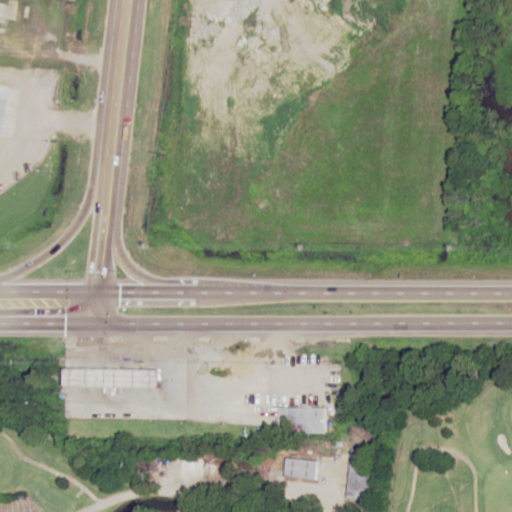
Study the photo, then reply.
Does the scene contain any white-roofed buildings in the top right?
No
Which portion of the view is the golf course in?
bottom right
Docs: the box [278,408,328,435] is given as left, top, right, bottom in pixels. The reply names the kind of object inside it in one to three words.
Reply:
building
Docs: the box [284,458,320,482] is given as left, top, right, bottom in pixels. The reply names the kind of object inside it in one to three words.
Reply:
shed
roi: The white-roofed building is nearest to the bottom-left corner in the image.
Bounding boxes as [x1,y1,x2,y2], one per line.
[60,368,156,388]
